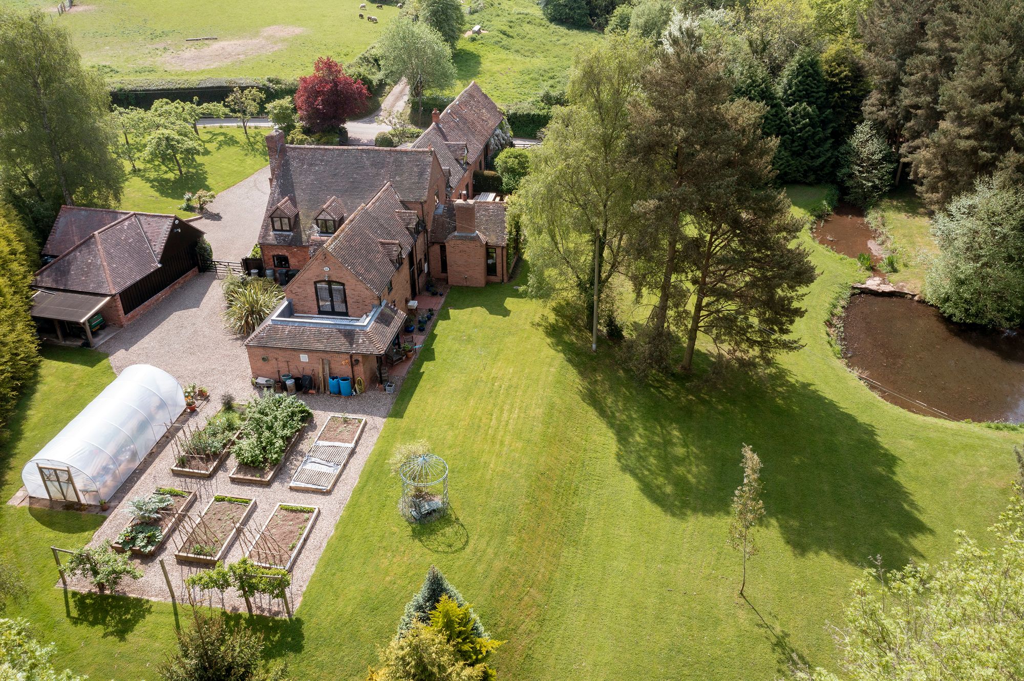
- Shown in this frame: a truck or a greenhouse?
greenhouse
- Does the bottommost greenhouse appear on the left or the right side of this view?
left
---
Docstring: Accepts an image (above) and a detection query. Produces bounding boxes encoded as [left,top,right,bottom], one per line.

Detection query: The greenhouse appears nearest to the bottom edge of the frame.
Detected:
[20,370,184,503]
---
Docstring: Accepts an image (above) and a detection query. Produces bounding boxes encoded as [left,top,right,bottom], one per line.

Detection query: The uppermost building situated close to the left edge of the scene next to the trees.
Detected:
[29,203,207,348]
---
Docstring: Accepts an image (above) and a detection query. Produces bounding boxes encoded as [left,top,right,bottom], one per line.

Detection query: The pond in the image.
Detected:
[841,296,1024,422]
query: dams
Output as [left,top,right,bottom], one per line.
[851,276,921,301]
